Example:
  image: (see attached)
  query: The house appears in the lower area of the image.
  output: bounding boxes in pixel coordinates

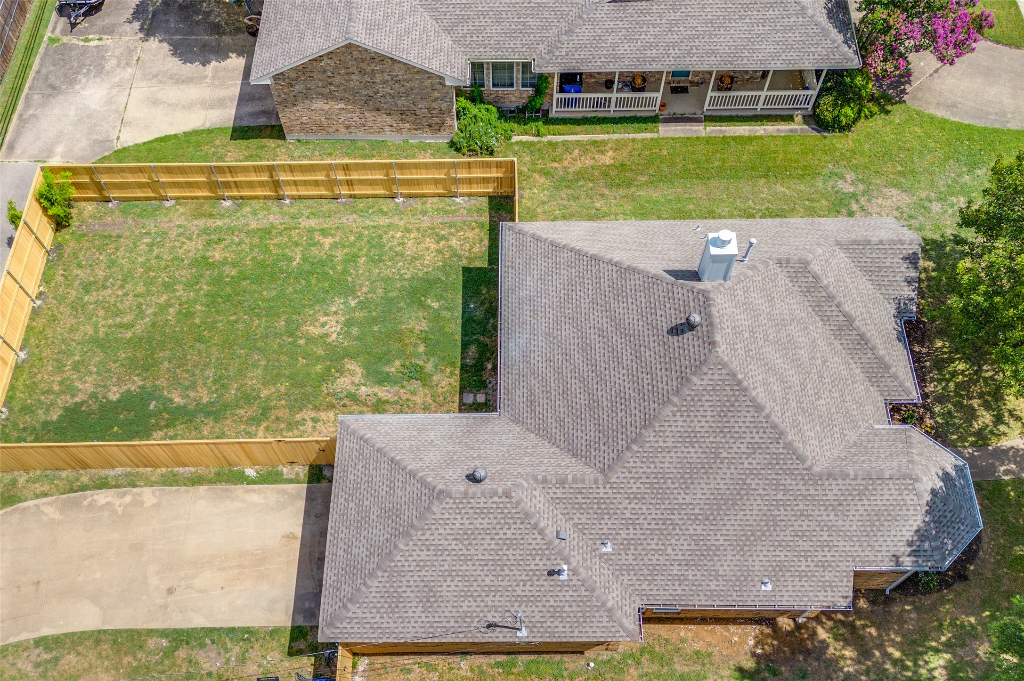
[316,217,983,654]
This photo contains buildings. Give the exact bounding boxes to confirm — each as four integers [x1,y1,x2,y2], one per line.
[250,0,863,140]
[316,217,983,654]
